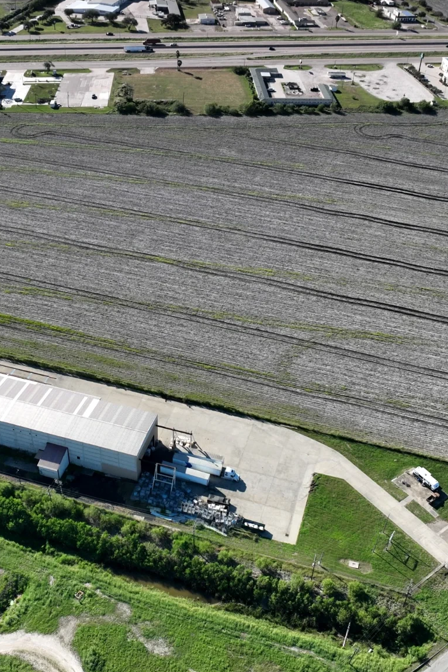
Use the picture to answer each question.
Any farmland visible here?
Yes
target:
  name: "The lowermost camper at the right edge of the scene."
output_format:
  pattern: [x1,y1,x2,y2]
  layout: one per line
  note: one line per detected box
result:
[413,465,439,489]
